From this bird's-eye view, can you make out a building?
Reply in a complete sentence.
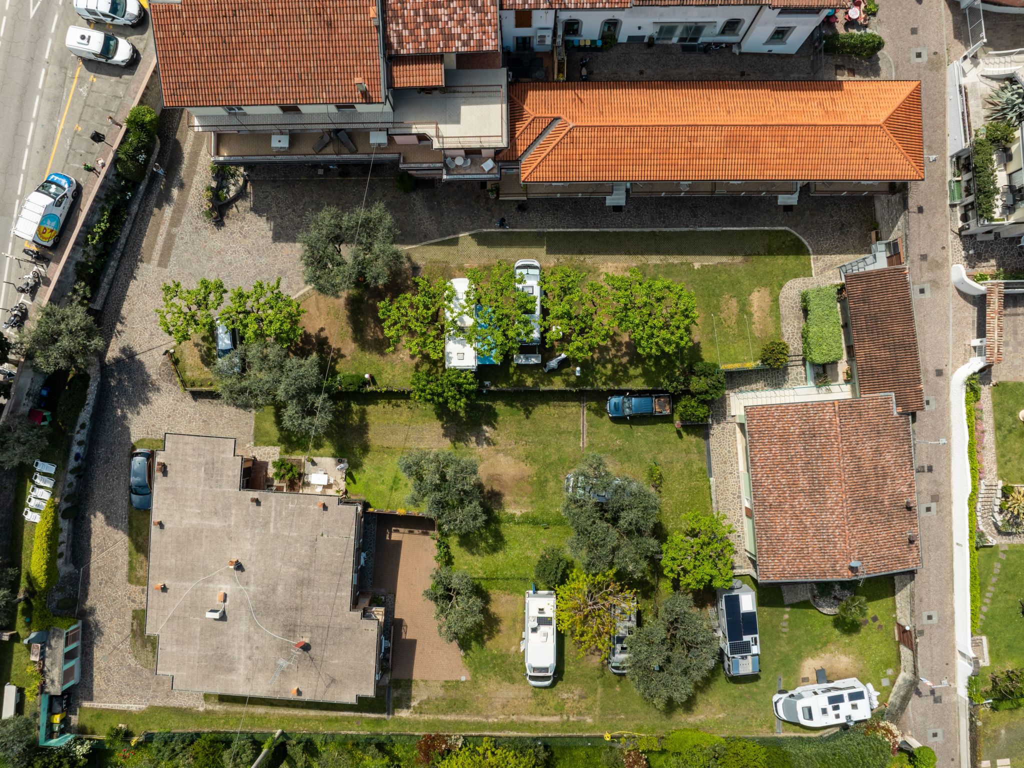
Yes, a building appears in the view.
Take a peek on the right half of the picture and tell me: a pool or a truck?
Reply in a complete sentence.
Looking on the right half of the picture, you will find a truck.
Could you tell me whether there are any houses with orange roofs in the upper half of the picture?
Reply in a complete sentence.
Yes, in the upper half of the picture there is a house with an orange roof.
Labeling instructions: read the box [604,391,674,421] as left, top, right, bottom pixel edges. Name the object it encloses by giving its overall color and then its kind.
blue truck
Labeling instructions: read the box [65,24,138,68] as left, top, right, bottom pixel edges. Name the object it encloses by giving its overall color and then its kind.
white van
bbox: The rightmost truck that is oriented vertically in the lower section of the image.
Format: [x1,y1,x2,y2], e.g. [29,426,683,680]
[714,580,761,679]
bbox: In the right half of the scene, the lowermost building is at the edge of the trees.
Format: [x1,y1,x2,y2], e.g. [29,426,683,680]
[730,396,923,585]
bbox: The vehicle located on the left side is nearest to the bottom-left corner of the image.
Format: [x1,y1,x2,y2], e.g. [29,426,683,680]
[125,449,153,508]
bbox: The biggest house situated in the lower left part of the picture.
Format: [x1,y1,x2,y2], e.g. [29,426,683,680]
[144,432,382,706]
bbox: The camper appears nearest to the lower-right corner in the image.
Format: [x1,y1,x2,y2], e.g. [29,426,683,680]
[768,677,881,731]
